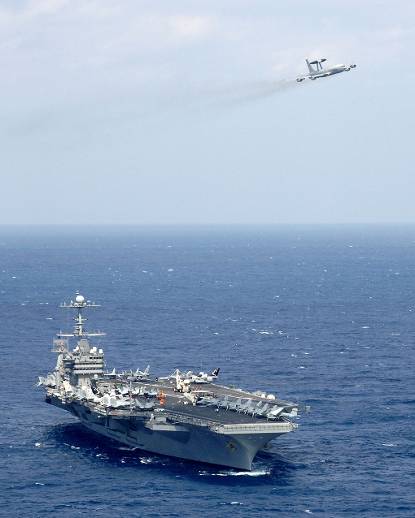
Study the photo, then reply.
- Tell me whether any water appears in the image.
Yes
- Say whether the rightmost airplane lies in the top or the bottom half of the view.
top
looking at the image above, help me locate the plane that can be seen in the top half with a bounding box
[289,58,355,82]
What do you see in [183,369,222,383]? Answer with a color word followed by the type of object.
white airplane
